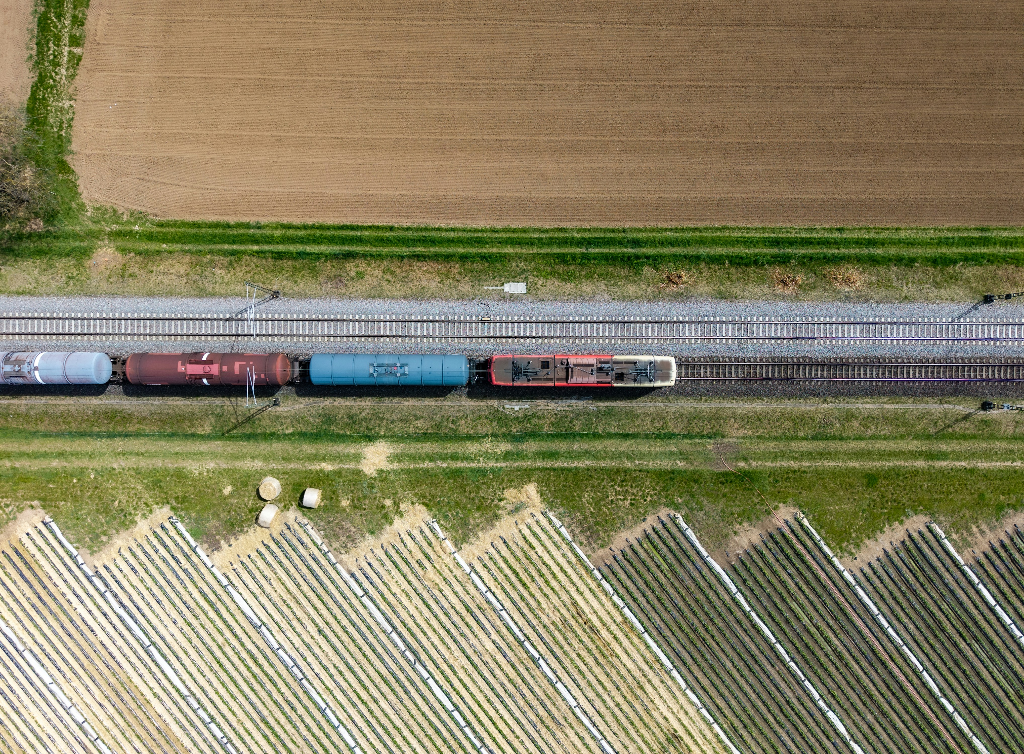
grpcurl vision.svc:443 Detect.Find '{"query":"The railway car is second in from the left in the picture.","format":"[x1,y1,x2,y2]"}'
[123,352,307,385]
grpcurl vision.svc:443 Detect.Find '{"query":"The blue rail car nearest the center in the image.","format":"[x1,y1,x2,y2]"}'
[303,353,483,386]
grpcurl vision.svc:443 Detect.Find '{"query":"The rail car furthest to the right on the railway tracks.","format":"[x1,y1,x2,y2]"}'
[483,354,680,387]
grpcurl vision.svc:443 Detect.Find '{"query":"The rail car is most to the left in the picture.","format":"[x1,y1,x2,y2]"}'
[0,351,127,384]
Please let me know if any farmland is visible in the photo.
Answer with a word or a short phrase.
Yes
